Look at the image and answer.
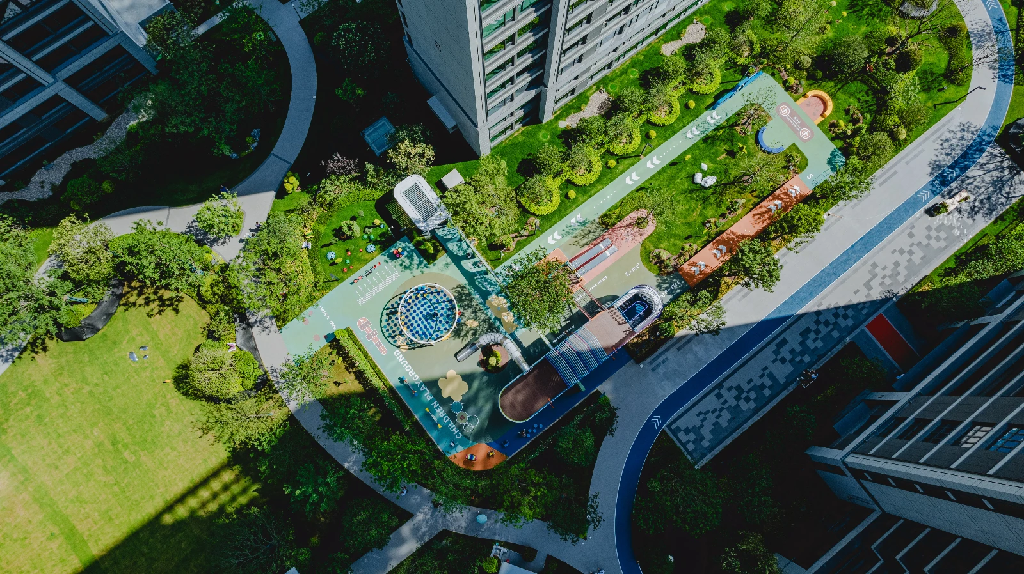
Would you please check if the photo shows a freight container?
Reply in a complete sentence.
No, this view has no freight container in it.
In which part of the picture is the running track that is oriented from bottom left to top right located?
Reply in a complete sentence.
You can find the running track that is oriented from bottom left to top right in the right area of the picture.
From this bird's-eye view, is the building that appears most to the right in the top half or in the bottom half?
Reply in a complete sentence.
It is in the bottom half that the building that appears most to the right appears.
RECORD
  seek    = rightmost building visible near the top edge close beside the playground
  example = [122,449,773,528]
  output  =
[387,0,702,157]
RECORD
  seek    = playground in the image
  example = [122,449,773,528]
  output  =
[280,75,844,471]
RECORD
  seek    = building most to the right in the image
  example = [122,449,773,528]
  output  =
[792,300,1024,574]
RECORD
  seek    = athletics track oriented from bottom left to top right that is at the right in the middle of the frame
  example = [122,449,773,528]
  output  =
[615,0,1014,570]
